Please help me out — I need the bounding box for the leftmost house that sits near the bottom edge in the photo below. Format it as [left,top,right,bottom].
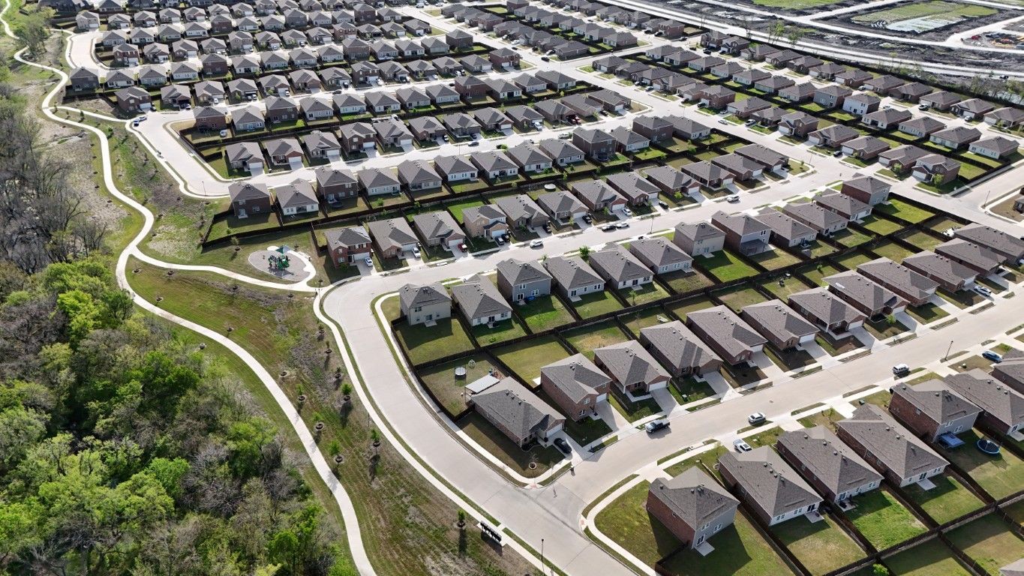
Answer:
[660,460,746,551]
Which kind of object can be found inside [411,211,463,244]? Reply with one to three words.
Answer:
house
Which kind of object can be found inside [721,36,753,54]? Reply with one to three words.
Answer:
house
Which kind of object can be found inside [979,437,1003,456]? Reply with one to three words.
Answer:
trampoline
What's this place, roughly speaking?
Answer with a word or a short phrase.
residential area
